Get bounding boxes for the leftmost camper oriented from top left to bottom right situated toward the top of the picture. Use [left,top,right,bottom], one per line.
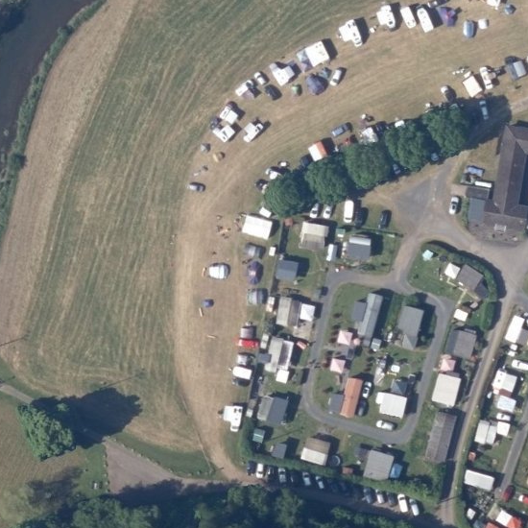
[213,125,232,143]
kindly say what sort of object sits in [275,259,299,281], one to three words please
house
